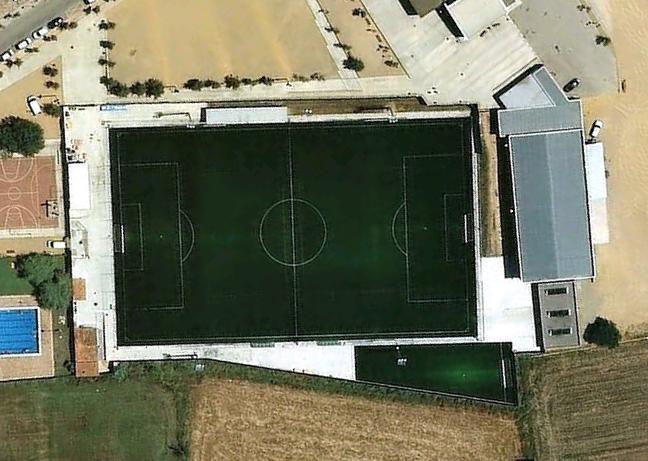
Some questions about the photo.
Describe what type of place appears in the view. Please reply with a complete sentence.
The picture captures a sports ground.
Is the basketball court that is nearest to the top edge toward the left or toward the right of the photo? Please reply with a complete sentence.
It is on the left.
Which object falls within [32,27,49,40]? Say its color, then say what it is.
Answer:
white vehicle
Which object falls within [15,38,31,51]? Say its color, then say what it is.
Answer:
white vehicle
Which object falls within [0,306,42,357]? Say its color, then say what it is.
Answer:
blue swimming pool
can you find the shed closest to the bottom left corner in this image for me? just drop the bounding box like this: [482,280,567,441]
[75,325,98,377]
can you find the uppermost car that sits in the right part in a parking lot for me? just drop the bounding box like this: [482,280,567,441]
[564,79,580,92]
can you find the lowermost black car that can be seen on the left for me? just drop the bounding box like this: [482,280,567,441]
[47,17,63,30]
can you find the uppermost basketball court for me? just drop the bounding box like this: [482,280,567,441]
[0,156,61,229]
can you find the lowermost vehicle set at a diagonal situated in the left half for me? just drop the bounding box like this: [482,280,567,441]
[27,96,43,115]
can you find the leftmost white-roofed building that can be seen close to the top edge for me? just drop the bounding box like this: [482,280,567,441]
[444,0,508,39]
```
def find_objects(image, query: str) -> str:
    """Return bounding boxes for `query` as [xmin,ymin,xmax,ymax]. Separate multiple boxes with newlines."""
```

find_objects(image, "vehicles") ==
[48,240,66,249]
[32,27,49,40]
[564,79,580,92]
[47,17,63,30]
[0,49,14,62]
[591,121,602,137]
[15,38,31,51]
[27,96,43,115]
